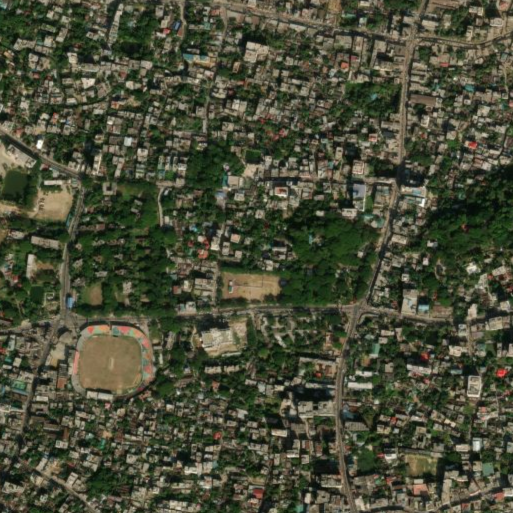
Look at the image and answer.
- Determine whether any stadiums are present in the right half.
No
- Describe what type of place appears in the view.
residential area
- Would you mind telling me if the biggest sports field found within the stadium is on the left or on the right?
left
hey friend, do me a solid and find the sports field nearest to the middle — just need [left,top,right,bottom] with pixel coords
[223,272,281,300]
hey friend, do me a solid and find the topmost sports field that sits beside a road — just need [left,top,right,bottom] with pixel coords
[37,189,73,221]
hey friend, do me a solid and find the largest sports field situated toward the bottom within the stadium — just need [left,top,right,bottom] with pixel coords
[78,336,141,396]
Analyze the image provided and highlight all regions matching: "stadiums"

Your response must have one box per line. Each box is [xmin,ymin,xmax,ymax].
[72,325,154,401]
